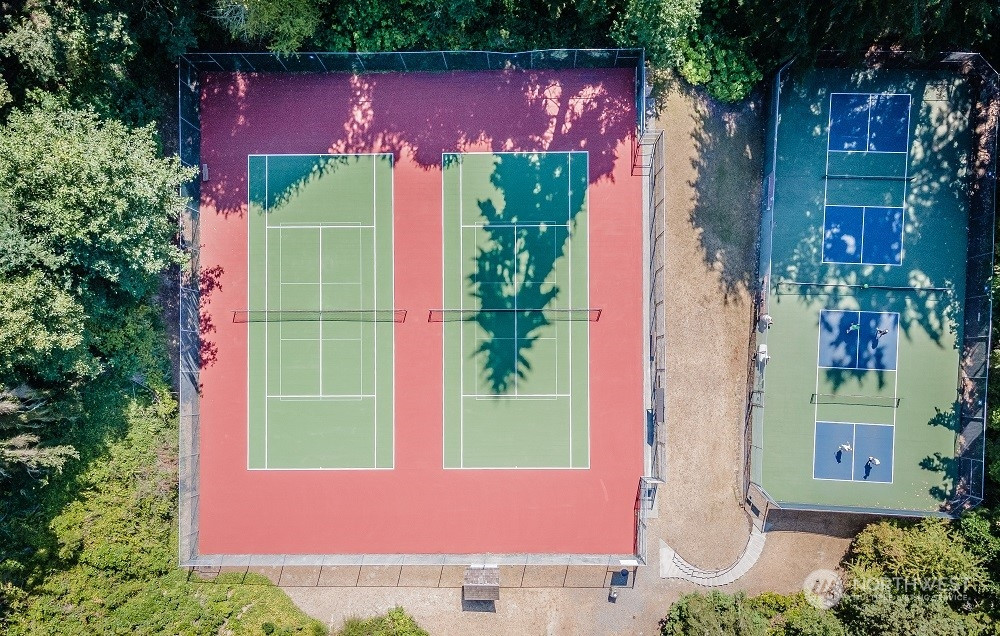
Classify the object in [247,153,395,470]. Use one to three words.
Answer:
tennis court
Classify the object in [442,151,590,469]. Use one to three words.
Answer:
tennis court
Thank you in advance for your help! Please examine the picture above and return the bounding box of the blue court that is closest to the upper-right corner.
[822,93,911,266]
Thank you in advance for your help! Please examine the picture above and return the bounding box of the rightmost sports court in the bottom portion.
[813,309,899,484]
